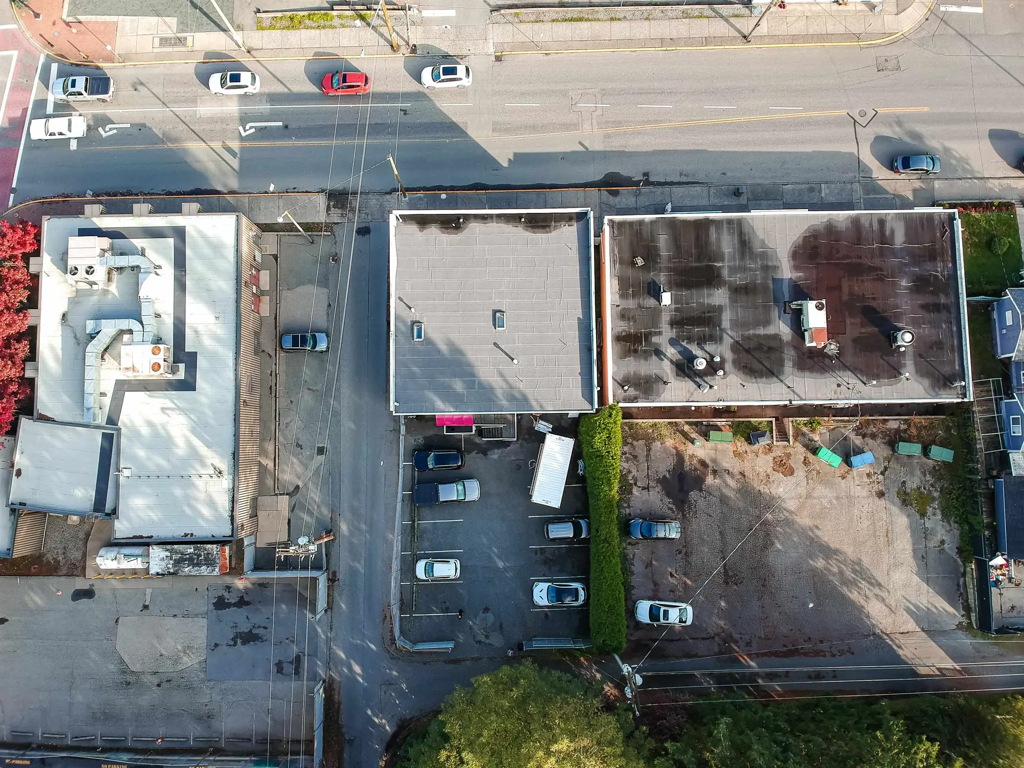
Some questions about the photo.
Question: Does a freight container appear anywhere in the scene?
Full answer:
Yes, the image includes a freight container.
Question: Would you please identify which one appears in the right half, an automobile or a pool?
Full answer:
You can see an automobile in the right half.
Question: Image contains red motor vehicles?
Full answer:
Yes, a red motor vehicle can be made out from above.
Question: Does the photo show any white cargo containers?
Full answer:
Yes, the image includes a white cargo container.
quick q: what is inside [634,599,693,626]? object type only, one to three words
car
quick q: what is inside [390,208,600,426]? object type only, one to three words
building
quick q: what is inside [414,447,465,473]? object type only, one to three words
car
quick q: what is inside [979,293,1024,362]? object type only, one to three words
house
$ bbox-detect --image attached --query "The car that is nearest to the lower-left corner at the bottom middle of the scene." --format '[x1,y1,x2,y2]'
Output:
[416,557,460,583]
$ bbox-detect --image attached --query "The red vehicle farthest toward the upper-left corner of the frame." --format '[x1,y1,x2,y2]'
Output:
[321,69,372,98]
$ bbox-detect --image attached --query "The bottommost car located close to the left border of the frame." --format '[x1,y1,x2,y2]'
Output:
[30,116,89,142]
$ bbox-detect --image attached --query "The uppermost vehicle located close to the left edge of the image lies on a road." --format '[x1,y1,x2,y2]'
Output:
[51,73,117,102]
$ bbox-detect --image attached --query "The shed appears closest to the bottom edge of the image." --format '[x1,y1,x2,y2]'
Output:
[149,542,236,575]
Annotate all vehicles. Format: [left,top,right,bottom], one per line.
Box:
[321,69,372,98]
[634,599,693,626]
[891,150,941,177]
[545,516,586,543]
[532,581,586,607]
[414,447,465,473]
[280,329,330,354]
[209,69,261,97]
[416,557,460,583]
[421,61,473,90]
[628,516,681,542]
[414,478,481,506]
[51,73,117,102]
[30,116,89,142]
